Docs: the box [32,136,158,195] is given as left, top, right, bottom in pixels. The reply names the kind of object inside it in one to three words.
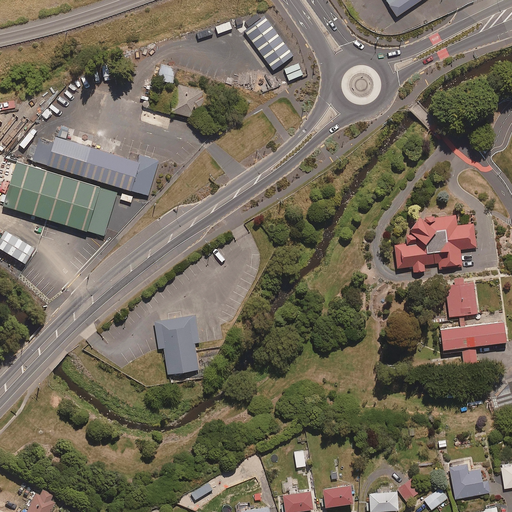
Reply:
building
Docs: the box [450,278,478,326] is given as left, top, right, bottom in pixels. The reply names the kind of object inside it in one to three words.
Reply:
house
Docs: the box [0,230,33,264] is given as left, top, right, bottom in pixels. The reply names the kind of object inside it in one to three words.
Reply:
shed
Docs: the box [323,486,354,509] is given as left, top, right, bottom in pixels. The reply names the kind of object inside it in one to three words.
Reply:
house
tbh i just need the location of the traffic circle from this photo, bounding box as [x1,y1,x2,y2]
[342,65,381,104]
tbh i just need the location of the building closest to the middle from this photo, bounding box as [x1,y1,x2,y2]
[154,316,199,376]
